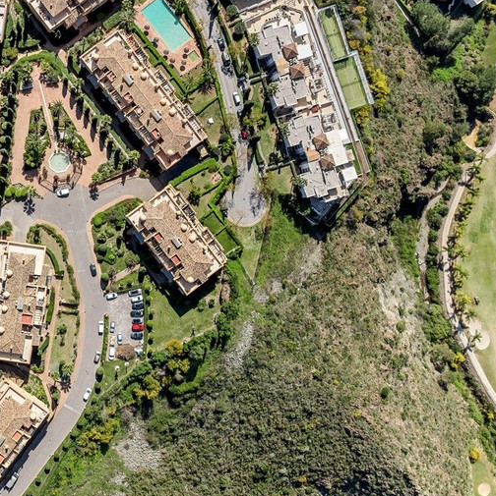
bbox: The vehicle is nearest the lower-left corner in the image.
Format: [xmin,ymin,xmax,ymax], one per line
[3,473,17,490]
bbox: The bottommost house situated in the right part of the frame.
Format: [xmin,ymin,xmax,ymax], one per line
[293,151,366,223]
